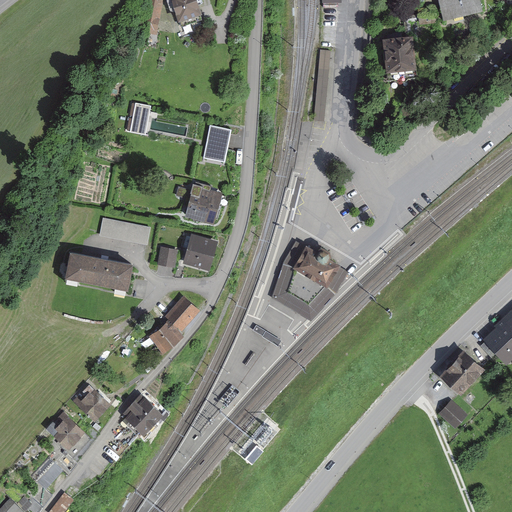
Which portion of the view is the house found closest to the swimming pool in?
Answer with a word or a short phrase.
top left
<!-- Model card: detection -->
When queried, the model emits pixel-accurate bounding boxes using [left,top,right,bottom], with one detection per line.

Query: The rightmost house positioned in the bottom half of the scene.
[482,313,512,365]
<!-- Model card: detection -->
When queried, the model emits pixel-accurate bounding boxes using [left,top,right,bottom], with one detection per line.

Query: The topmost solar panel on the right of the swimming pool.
[205,126,230,160]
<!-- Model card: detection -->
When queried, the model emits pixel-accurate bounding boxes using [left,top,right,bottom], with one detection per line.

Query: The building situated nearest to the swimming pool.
[125,102,151,135]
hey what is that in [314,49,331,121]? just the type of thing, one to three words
shed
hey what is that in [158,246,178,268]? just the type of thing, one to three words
building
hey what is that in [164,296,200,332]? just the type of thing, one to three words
house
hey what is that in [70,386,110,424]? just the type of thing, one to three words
house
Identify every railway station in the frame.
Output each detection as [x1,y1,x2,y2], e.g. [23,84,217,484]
[273,241,348,320]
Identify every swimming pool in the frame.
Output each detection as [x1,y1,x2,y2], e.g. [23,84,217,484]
[150,118,187,136]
